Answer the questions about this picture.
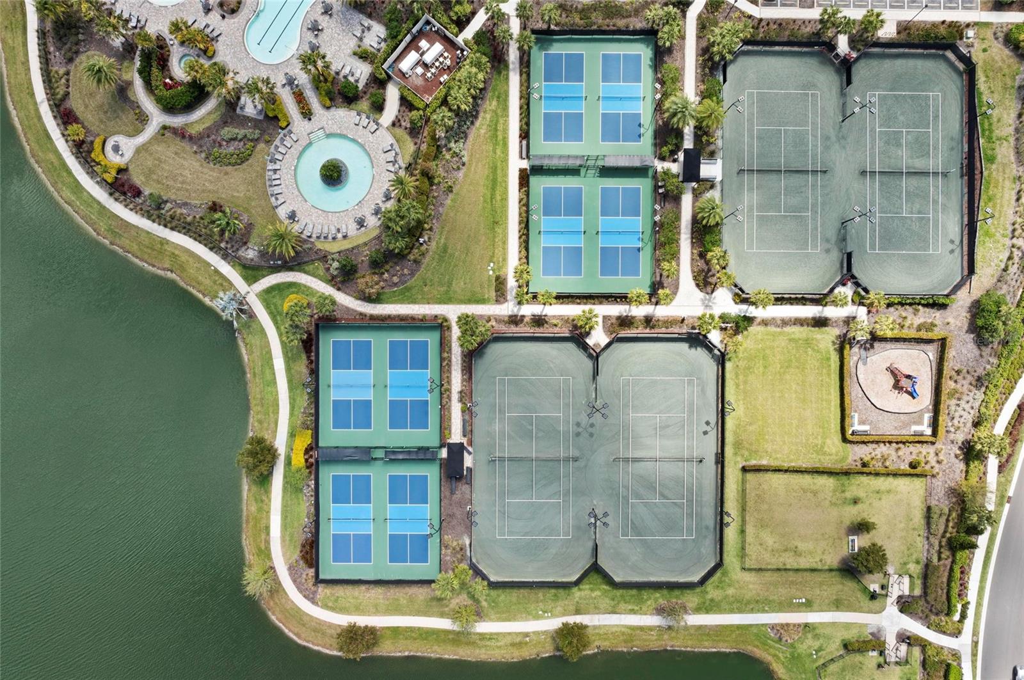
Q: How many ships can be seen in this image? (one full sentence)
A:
I count no ships.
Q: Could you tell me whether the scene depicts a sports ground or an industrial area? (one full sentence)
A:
The picture captures a sports ground.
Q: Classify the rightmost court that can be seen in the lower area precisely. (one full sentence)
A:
Looking closely, the rightmost court that can be seen in the lower area is a tennis court.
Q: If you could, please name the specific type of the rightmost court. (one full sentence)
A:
From above, the rightmost court can be identified as a tennis court.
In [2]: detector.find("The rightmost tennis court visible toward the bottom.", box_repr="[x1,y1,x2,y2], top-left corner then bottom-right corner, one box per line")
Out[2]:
[597,334,721,581]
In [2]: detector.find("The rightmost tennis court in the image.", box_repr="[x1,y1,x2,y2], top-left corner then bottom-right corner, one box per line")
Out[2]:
[846,52,963,294]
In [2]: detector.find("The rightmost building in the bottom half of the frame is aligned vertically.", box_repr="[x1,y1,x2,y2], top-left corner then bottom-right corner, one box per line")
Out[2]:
[447,442,464,478]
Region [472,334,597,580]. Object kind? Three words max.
tennis court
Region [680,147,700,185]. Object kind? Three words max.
building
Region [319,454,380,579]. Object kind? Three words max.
sports court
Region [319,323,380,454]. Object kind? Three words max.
sports court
